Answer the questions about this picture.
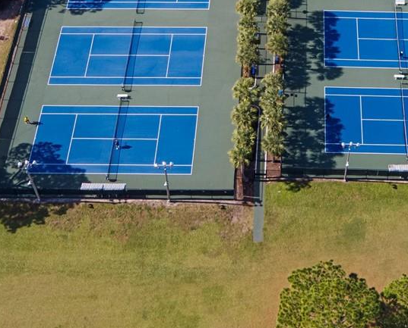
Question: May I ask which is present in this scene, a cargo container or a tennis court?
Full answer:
There is a tennis court in the scene.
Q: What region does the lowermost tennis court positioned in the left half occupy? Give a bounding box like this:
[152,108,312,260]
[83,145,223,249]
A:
[27,98,199,176]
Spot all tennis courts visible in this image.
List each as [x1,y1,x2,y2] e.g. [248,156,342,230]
[27,98,199,176]
[324,5,408,70]
[47,21,206,89]
[325,82,408,157]
[66,0,211,9]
